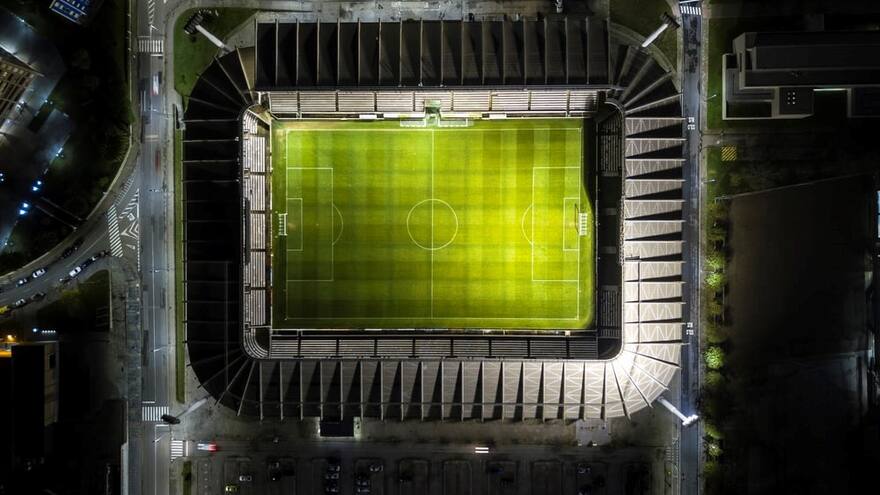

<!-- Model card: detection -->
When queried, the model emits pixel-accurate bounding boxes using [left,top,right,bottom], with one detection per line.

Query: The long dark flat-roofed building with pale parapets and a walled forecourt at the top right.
[720,33,880,120]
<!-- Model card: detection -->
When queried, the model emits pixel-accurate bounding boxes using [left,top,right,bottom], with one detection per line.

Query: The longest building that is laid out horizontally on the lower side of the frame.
[319,418,361,437]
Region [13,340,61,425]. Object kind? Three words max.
building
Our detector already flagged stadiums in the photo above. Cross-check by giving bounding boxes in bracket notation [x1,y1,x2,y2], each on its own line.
[180,18,688,422]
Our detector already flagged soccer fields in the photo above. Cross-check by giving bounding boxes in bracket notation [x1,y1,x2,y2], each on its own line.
[272,119,596,331]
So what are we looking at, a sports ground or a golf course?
sports ground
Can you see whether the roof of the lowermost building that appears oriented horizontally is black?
Yes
